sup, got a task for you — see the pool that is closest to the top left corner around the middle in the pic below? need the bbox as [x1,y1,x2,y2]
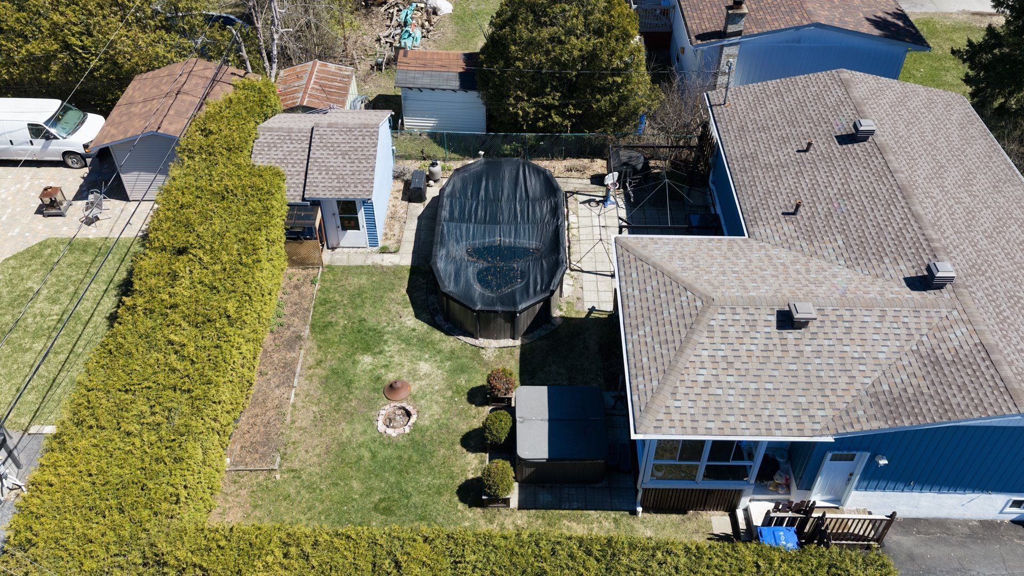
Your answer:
[430,157,568,342]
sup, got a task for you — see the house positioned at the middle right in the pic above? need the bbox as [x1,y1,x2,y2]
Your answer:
[607,58,1024,522]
